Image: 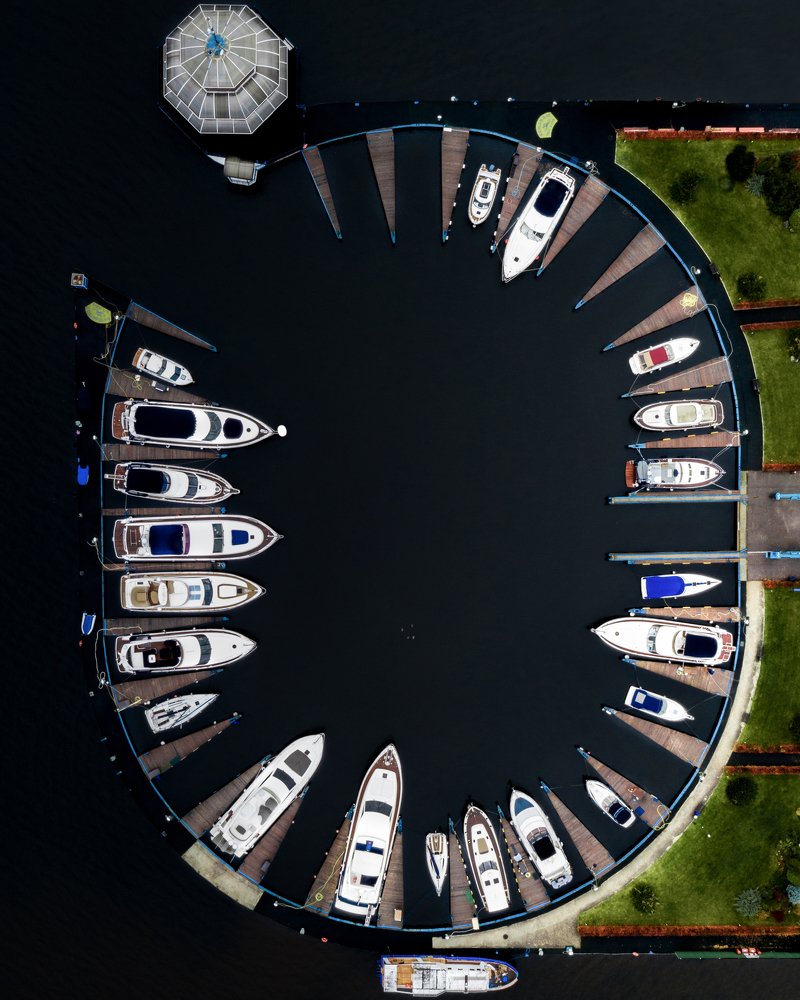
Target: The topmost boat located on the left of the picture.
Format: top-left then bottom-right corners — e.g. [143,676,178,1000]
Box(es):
[133,349,193,387]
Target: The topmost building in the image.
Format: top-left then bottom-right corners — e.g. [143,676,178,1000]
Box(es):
[163,6,295,138]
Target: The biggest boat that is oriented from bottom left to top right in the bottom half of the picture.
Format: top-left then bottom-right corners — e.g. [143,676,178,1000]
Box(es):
[212,733,324,862]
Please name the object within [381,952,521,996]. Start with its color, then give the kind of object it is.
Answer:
white vessel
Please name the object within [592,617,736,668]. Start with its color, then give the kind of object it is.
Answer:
white boat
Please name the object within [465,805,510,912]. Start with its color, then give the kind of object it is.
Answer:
white boat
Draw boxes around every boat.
[112,397,276,451]
[120,569,268,613]
[105,463,235,503]
[632,397,724,433]
[426,831,449,898]
[511,788,572,888]
[624,687,694,722]
[146,694,219,733]
[133,349,193,387]
[587,781,636,827]
[336,741,401,926]
[212,733,324,862]
[630,338,702,374]
[503,167,574,283]
[465,805,510,912]
[112,515,281,562]
[469,165,501,228]
[115,626,259,673]
[639,570,724,599]
[592,617,736,668]
[625,455,728,490]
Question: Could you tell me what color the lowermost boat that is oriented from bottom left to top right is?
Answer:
white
